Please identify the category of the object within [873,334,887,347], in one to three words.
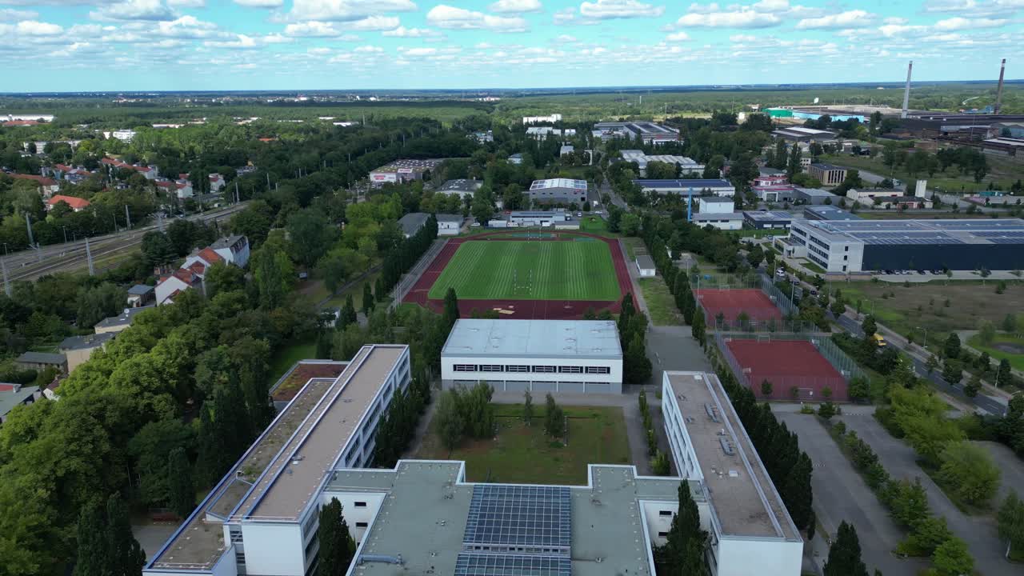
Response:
vehicle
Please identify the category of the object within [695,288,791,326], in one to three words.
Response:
sports court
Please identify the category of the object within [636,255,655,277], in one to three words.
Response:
shed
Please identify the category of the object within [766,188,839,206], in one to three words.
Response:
building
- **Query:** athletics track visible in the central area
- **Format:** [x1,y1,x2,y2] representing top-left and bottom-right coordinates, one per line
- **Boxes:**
[399,231,636,321]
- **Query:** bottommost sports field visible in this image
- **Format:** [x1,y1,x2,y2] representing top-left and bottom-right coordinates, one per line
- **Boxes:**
[429,241,622,300]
